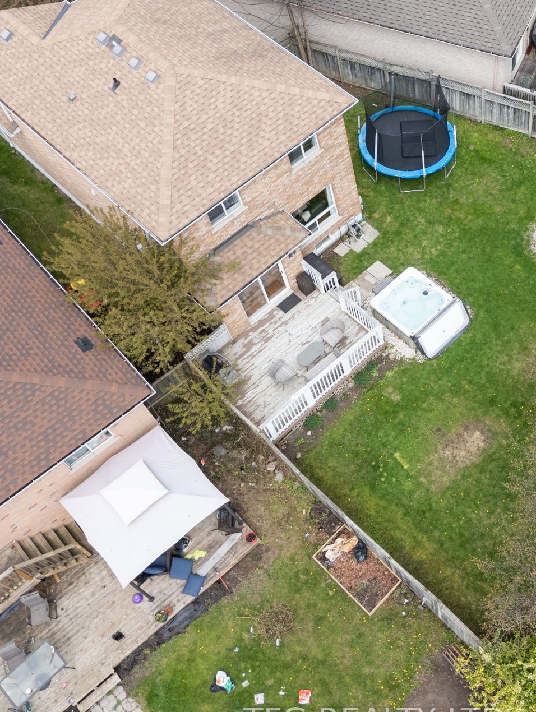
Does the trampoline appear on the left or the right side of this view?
right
